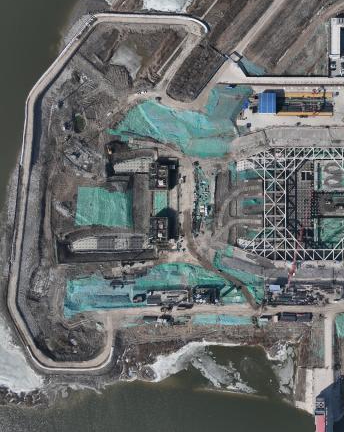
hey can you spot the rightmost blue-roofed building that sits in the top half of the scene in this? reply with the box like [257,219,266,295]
[258,93,277,116]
